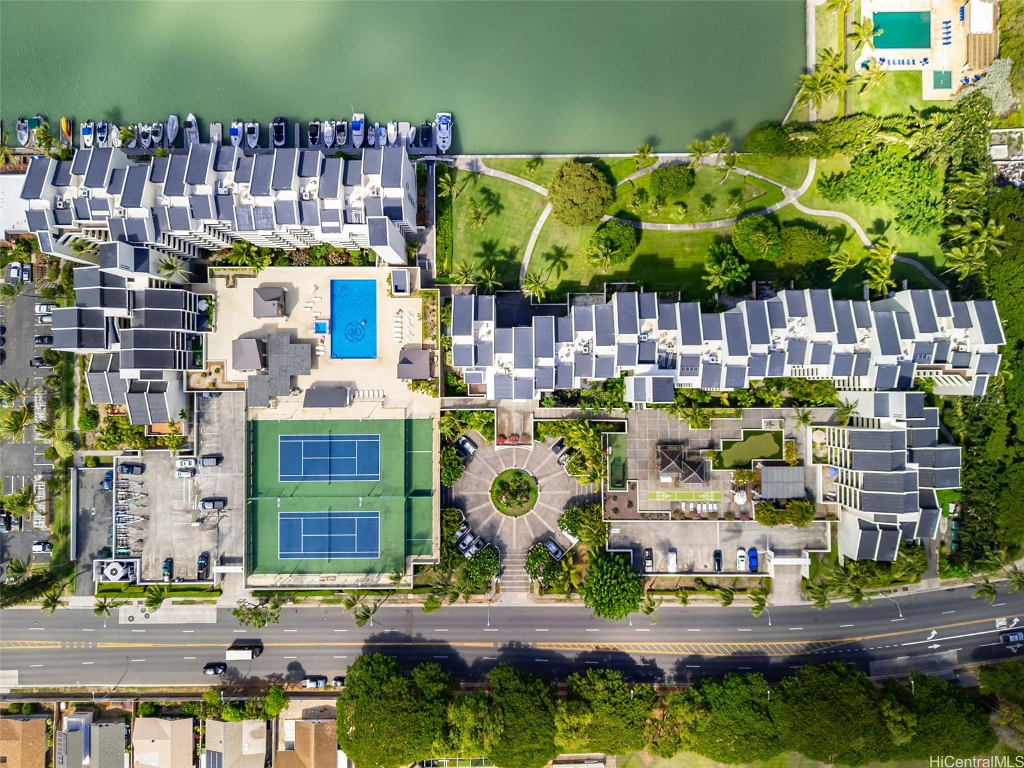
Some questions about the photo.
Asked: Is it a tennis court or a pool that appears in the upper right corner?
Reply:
pool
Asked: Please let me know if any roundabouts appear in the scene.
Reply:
Yes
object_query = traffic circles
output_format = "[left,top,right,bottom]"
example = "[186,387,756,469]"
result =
[451,432,580,559]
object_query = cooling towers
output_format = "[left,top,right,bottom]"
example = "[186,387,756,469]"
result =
[101,556,132,585]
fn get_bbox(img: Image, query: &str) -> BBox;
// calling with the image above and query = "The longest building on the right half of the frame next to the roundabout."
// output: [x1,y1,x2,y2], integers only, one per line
[450,288,1008,410]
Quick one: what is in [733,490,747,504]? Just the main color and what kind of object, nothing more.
white umbrella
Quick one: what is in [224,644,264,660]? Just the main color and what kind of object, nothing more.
white vehicle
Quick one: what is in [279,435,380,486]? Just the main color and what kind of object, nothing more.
blue tennis court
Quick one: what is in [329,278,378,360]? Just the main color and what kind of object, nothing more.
blue swimming pool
